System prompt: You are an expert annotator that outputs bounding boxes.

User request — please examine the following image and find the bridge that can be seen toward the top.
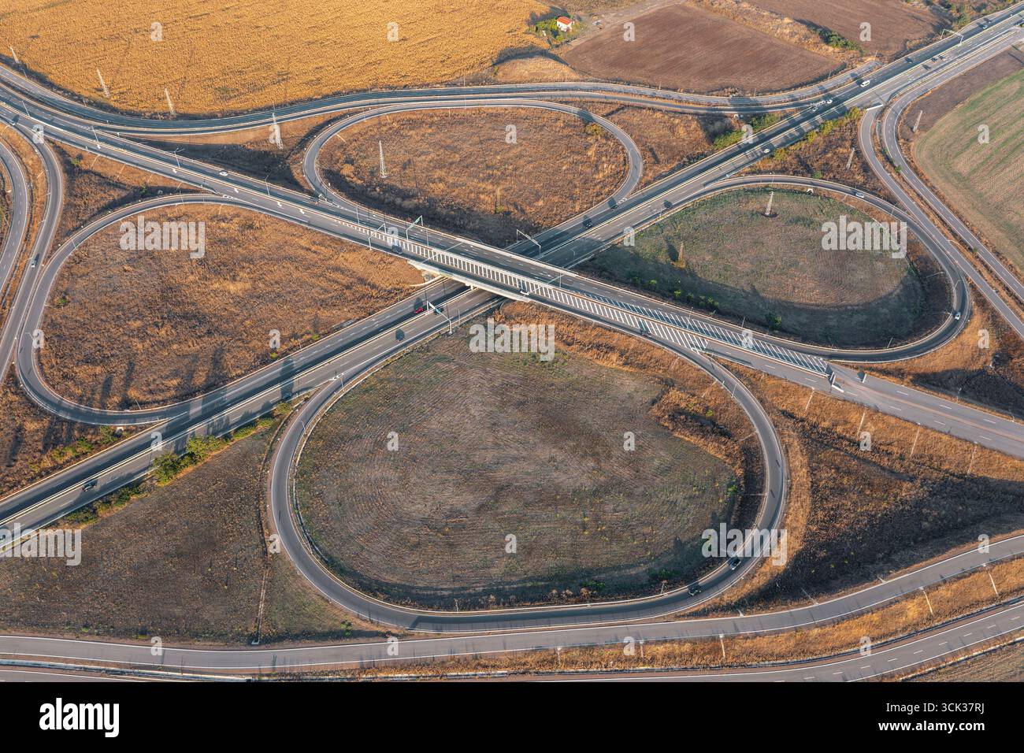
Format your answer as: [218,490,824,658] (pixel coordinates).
[409,238,577,303]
